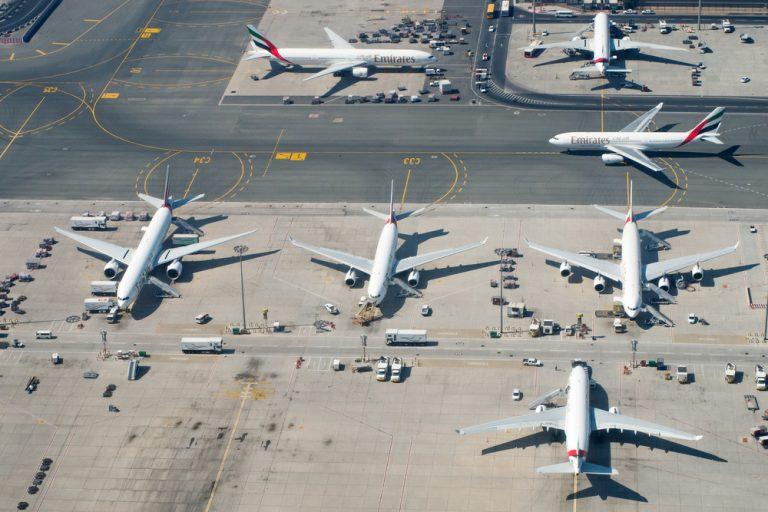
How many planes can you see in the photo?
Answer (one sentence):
Altogether the scene contains 7 planes.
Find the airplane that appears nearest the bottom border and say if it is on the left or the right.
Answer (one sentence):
The airplane that appears nearest the bottom border is on the right side of the image.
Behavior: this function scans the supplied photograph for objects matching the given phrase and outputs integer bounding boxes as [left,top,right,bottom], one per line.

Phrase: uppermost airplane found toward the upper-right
[520,15,690,73]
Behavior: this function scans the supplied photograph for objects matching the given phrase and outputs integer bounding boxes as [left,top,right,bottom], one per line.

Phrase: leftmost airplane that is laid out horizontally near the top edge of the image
[245,25,434,81]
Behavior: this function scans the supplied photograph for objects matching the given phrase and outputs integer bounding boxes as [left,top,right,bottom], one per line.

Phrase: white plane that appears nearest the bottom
[456,366,704,478]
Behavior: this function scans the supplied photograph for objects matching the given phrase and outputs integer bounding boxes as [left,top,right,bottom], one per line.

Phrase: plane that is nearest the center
[289,181,488,305]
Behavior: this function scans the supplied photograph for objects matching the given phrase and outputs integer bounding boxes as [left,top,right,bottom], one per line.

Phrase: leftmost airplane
[52,164,260,309]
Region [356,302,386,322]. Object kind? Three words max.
work vehicle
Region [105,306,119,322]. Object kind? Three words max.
work vehicle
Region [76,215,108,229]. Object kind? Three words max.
vehicle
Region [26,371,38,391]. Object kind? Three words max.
vehicle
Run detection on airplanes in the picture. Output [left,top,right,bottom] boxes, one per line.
[550,98,728,168]
[245,25,434,81]
[52,164,260,309]
[520,15,690,73]
[526,180,740,320]
[289,181,488,305]
[456,366,704,478]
